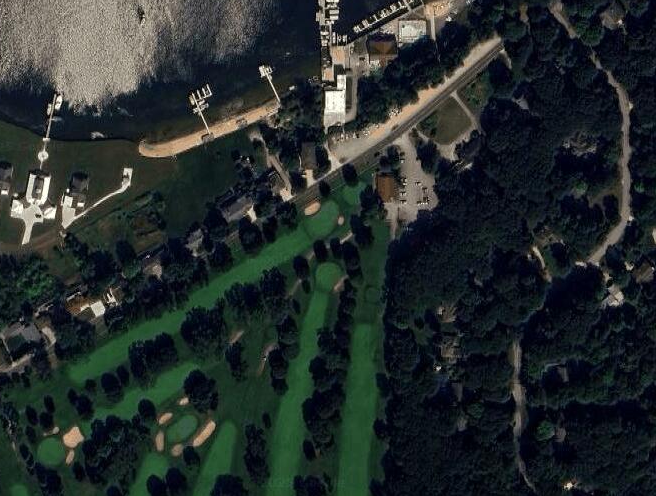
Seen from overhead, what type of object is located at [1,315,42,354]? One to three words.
house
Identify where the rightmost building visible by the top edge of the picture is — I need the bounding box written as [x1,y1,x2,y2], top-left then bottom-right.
[599,3,626,27]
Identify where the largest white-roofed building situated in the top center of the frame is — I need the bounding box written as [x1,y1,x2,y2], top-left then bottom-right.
[325,73,347,123]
